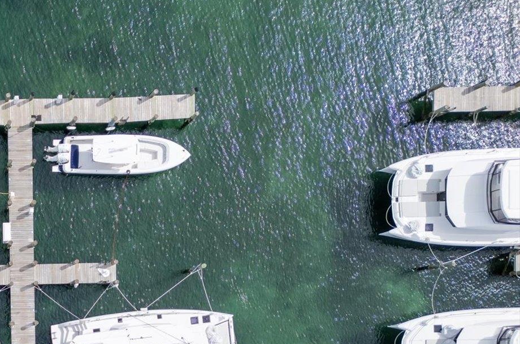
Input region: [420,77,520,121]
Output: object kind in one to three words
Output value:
pier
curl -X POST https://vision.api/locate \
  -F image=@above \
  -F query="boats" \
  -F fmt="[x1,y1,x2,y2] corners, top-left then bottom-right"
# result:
[371,147,520,247]
[41,135,191,175]
[51,310,237,344]
[381,303,520,344]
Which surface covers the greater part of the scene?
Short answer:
water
